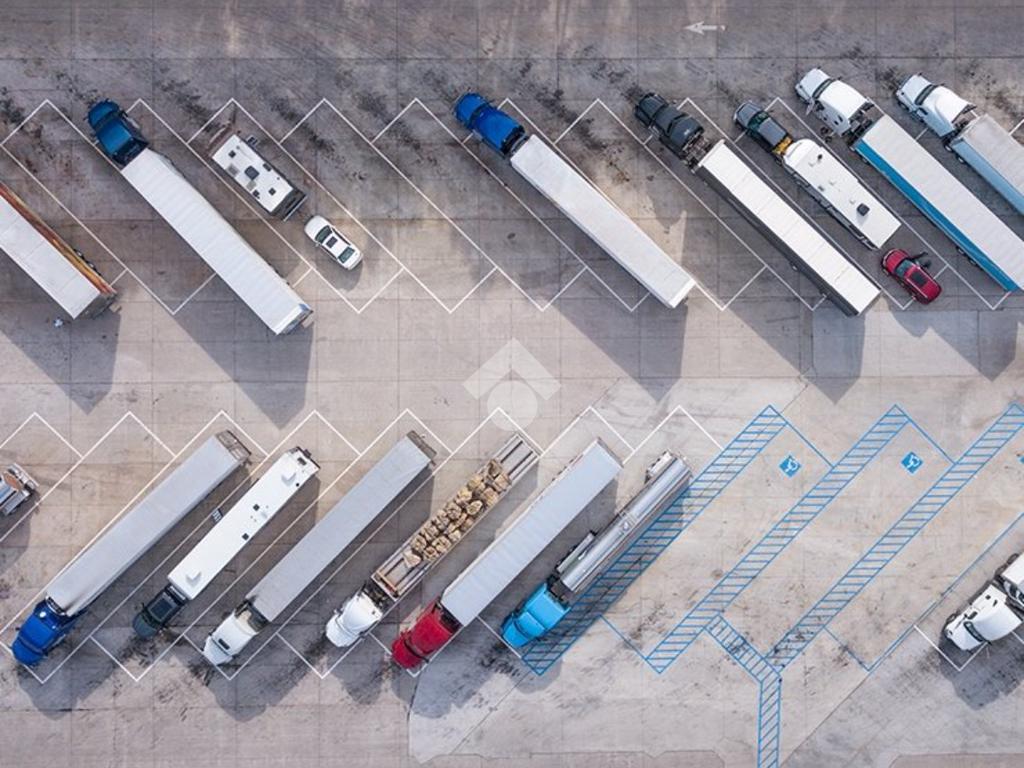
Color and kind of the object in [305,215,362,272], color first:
white car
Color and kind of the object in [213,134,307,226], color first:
white camper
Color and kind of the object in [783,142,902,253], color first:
white vehicle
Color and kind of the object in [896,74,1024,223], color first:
white truck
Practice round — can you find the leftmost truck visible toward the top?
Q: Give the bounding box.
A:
[0,183,115,320]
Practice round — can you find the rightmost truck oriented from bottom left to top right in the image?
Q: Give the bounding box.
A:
[944,553,1024,650]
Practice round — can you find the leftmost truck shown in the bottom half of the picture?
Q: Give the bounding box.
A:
[0,462,41,525]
